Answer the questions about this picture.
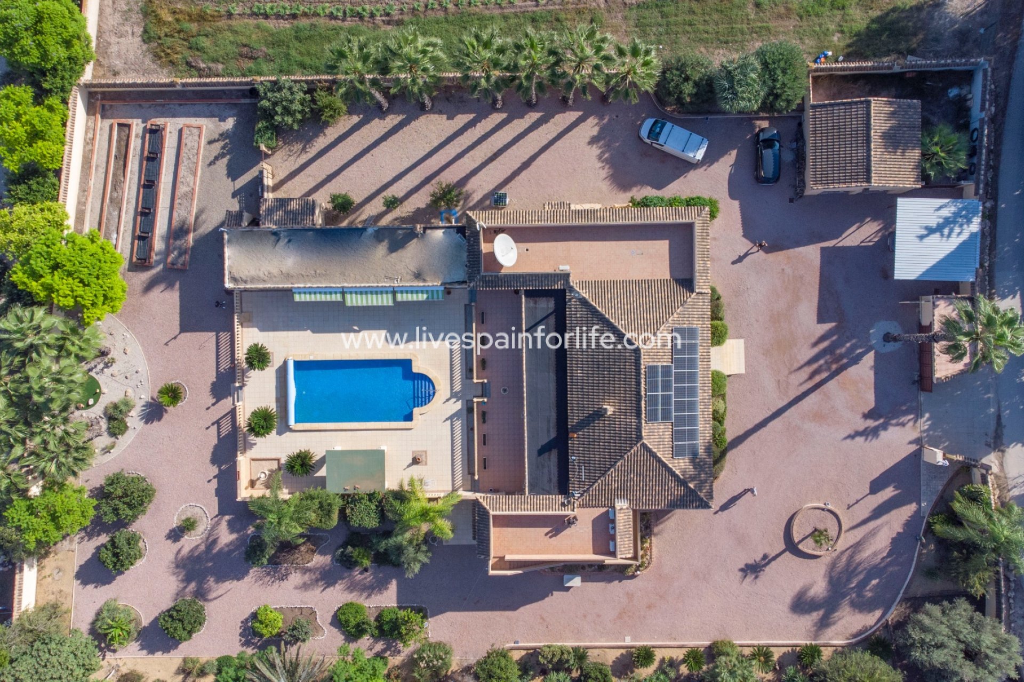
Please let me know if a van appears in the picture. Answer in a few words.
Yes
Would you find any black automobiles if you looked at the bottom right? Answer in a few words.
No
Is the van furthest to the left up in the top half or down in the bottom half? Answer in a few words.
top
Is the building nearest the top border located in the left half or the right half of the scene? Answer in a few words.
right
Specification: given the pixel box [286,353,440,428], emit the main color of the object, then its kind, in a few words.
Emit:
blue swimming pool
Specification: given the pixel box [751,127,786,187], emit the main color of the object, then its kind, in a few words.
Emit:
black car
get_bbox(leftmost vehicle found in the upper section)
[633,117,711,168]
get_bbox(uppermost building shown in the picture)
[799,96,923,195]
